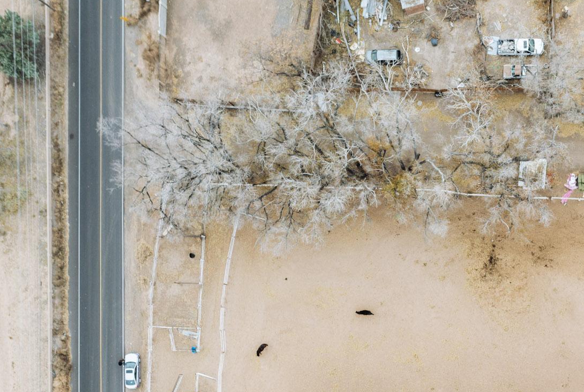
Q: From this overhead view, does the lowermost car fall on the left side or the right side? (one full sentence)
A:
The lowermost car is on the left side of the image.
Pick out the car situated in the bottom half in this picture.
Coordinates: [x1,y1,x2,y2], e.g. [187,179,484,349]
[123,352,144,389]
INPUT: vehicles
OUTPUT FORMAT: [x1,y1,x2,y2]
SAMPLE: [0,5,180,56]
[499,36,544,57]
[123,352,144,389]
[501,62,538,81]
[365,46,402,66]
